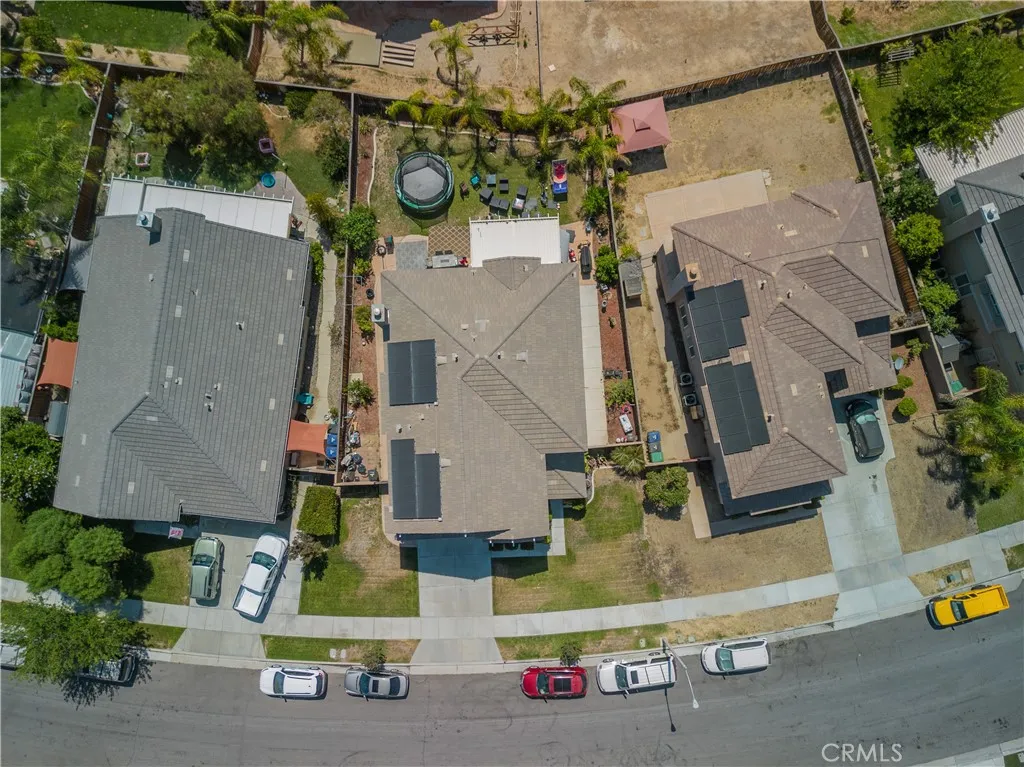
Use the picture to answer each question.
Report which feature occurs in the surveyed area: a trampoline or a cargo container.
trampoline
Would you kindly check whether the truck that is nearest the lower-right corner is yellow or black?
yellow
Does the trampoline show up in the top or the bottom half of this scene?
top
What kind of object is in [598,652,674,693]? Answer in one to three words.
car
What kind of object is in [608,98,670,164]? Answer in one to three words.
gazebo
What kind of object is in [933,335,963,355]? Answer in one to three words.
shed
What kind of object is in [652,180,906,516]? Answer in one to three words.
house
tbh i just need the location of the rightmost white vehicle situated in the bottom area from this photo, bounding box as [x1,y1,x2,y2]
[700,637,770,675]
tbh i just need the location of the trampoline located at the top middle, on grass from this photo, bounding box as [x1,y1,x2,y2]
[394,154,454,220]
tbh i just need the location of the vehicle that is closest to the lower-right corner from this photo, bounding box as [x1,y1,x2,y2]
[924,583,1013,627]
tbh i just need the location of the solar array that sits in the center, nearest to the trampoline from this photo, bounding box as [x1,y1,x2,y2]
[387,340,435,405]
